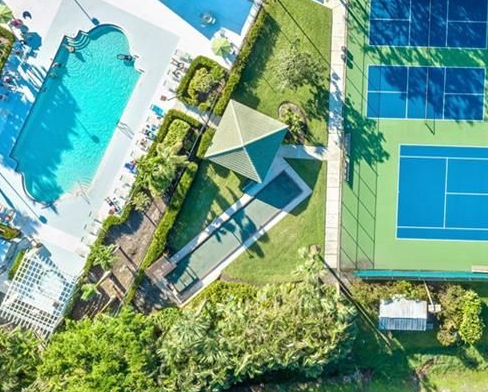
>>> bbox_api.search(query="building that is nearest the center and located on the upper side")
[204,98,289,183]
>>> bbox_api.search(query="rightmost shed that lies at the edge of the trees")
[379,295,427,330]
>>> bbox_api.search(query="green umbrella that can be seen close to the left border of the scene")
[0,2,16,25]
